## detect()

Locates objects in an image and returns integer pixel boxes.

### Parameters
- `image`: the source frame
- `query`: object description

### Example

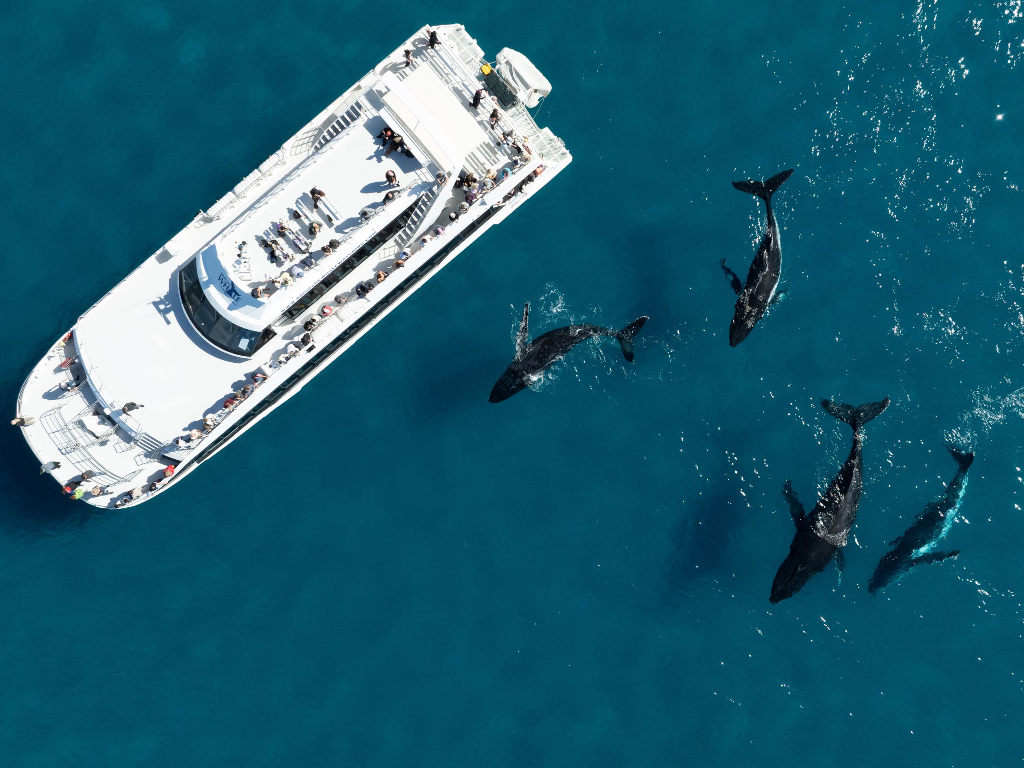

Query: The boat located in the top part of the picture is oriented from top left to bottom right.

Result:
[498,46,550,109]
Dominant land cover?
water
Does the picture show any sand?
No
